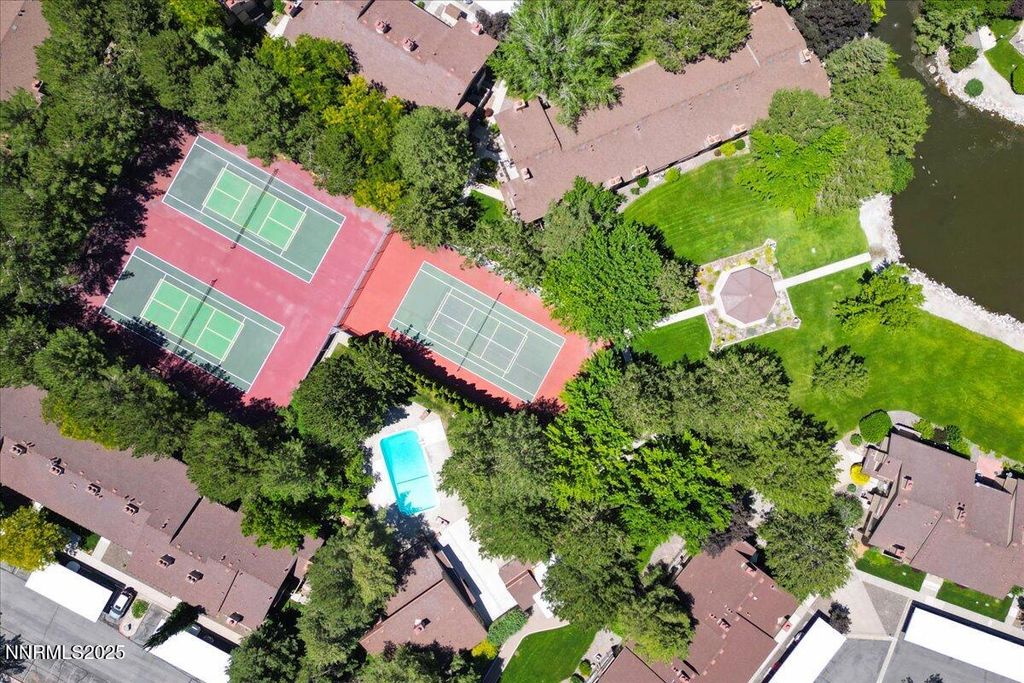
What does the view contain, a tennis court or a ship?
tennis court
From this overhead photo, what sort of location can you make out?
residential area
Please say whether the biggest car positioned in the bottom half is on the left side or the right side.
left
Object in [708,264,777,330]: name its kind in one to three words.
gazebo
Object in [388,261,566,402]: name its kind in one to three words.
tennis court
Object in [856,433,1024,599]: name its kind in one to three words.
house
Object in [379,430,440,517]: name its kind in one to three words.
swimming pool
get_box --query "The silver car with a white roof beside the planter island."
[107,588,133,622]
